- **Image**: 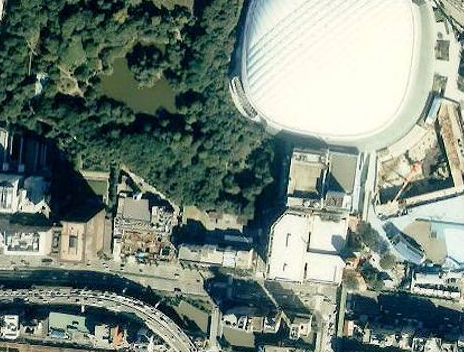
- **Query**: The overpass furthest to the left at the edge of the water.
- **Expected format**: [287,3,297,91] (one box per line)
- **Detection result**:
[0,287,192,352]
